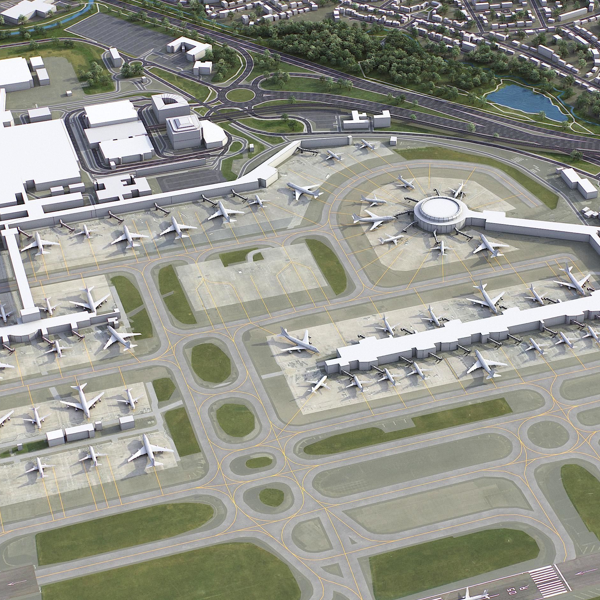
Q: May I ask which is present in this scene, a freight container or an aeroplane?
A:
aeroplane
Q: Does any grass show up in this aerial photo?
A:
Yes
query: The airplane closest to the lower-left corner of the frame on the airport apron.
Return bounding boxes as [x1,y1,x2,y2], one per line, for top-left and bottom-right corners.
[25,457,56,479]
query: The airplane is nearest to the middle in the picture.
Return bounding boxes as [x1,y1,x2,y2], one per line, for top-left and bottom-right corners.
[277,327,319,352]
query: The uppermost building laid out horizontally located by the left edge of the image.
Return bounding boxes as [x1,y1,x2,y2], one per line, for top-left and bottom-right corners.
[0,0,57,24]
